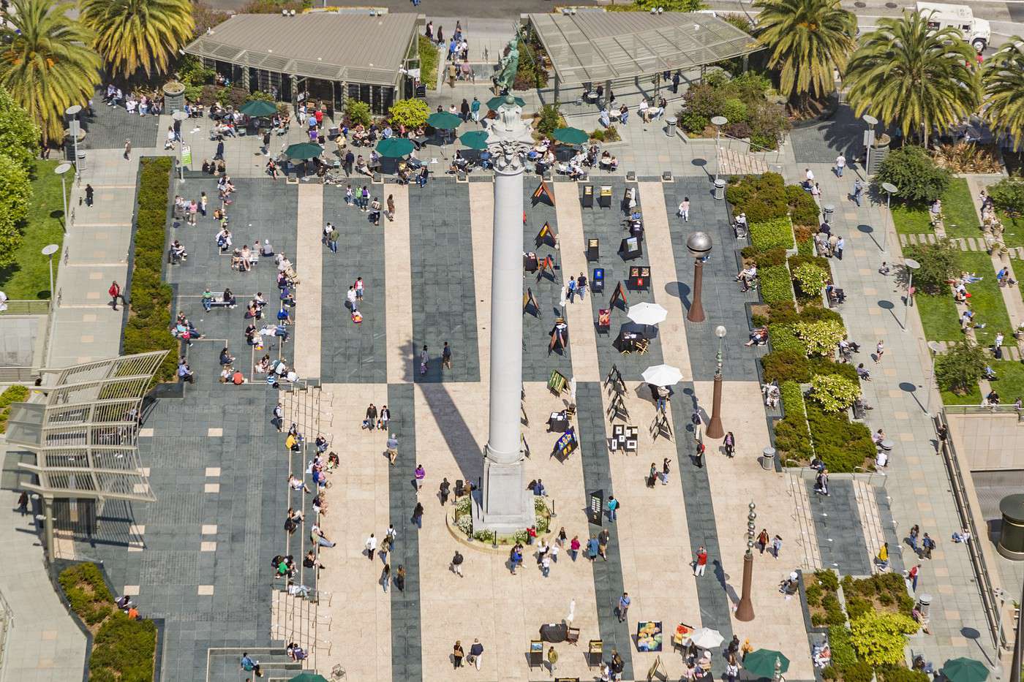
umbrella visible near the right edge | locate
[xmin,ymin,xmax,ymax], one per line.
[936,655,994,682]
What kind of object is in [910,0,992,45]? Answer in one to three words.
truck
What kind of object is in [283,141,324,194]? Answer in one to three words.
umbrella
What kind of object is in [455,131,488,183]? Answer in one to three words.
umbrella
